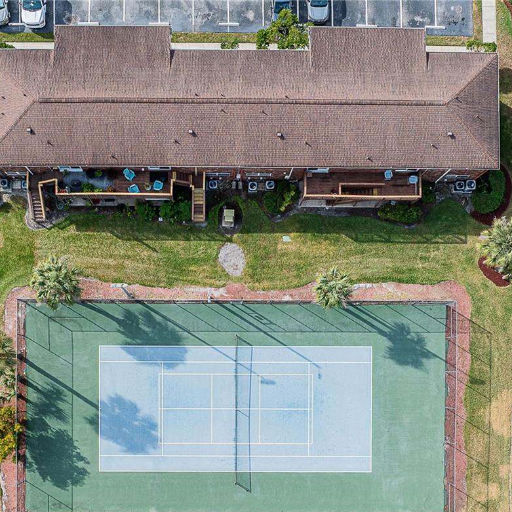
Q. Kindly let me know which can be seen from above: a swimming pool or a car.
car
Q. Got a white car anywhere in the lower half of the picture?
No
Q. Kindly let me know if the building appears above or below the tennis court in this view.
above it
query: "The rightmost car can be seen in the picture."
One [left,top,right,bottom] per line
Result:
[305,0,333,26]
